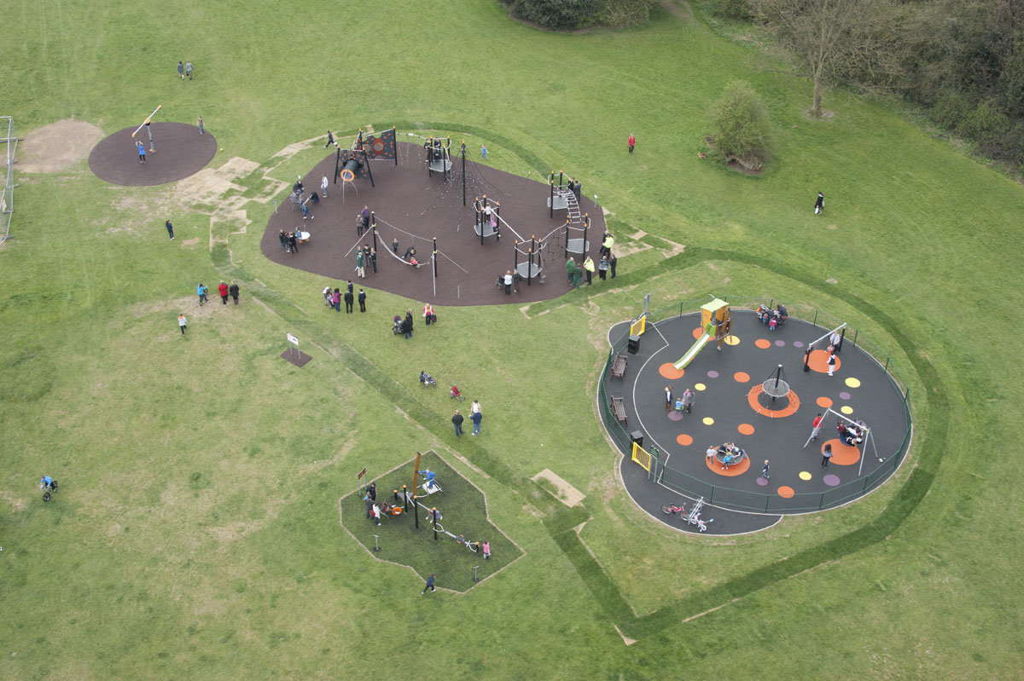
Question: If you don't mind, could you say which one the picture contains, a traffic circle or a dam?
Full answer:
Looking from above, you can make out a traffic circle.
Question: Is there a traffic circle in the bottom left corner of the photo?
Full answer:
No, looking in the bottom left corner of the photo, there is no traffic circle.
